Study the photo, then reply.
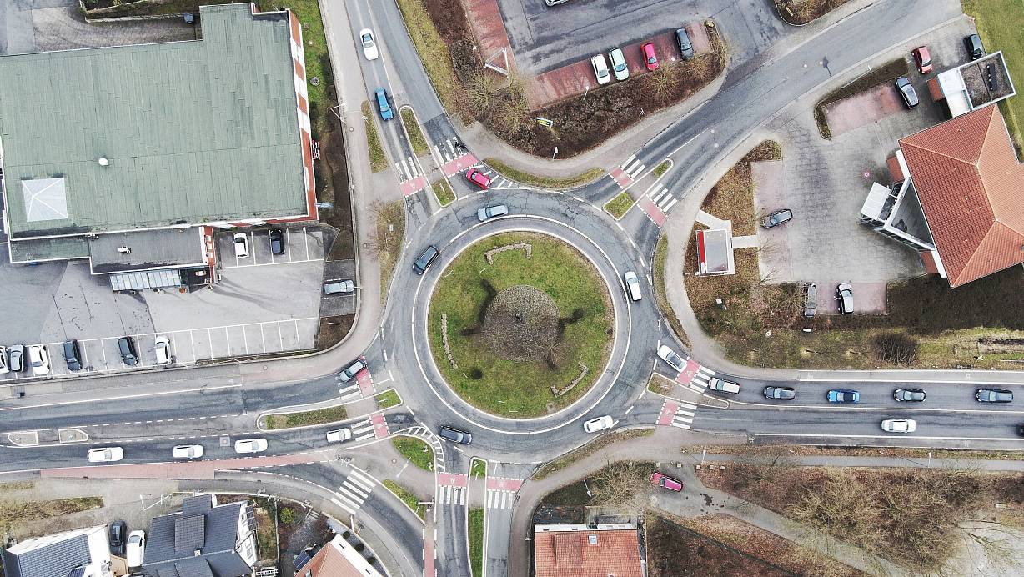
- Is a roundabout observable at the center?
Yes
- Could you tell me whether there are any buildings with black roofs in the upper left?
No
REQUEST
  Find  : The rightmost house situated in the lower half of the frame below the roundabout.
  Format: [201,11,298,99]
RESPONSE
[536,507,641,577]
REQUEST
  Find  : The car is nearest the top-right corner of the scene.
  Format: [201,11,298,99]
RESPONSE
[963,33,982,61]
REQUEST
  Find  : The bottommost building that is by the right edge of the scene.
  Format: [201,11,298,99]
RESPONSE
[849,103,1024,288]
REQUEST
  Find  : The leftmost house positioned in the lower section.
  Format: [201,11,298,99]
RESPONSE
[4,522,118,577]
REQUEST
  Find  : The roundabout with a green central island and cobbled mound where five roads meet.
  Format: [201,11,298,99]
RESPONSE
[370,173,674,478]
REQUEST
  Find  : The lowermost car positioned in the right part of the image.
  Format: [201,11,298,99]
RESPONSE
[650,470,683,492]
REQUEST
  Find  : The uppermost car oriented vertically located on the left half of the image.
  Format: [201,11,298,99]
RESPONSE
[360,27,379,62]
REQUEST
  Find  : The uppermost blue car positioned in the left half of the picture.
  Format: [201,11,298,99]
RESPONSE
[374,87,394,121]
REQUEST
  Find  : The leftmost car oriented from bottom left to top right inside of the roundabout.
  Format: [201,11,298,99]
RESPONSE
[412,244,440,276]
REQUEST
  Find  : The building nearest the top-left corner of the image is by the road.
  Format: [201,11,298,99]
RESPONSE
[0,1,331,291]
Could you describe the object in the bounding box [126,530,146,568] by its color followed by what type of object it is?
white car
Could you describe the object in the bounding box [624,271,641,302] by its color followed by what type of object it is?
white car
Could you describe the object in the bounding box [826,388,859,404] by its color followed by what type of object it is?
blue car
